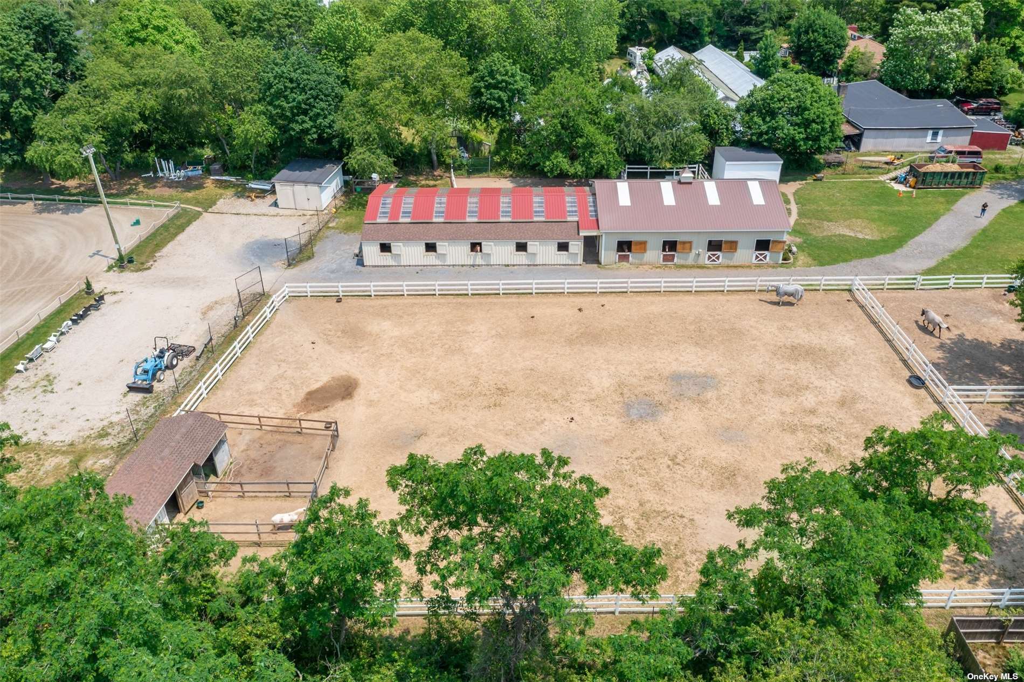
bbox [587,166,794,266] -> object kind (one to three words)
building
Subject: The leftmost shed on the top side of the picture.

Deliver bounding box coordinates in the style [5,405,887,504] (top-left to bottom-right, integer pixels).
[271,151,346,210]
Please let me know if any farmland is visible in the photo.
Yes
